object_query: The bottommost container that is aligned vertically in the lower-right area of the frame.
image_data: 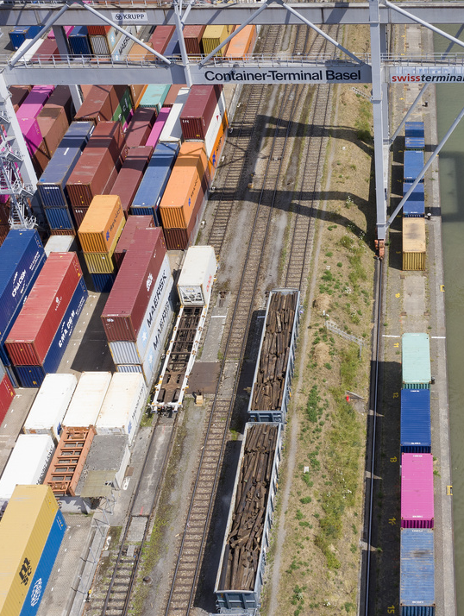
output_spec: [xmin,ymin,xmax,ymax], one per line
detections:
[399,528,436,615]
